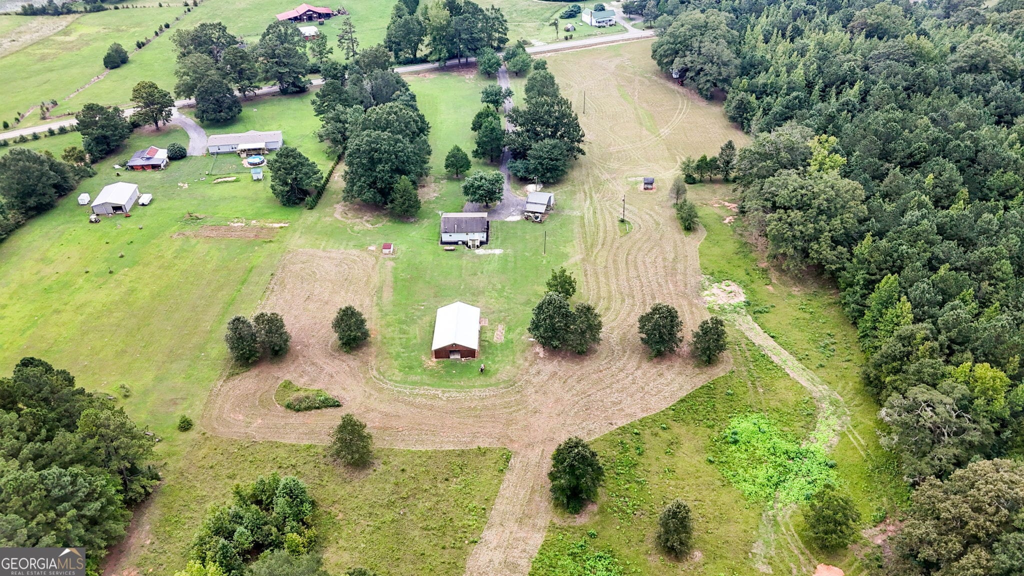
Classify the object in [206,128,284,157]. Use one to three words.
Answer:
house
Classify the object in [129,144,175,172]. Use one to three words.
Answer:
barn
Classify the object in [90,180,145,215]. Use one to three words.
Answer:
building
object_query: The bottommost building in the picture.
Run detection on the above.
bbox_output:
[432,301,480,360]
